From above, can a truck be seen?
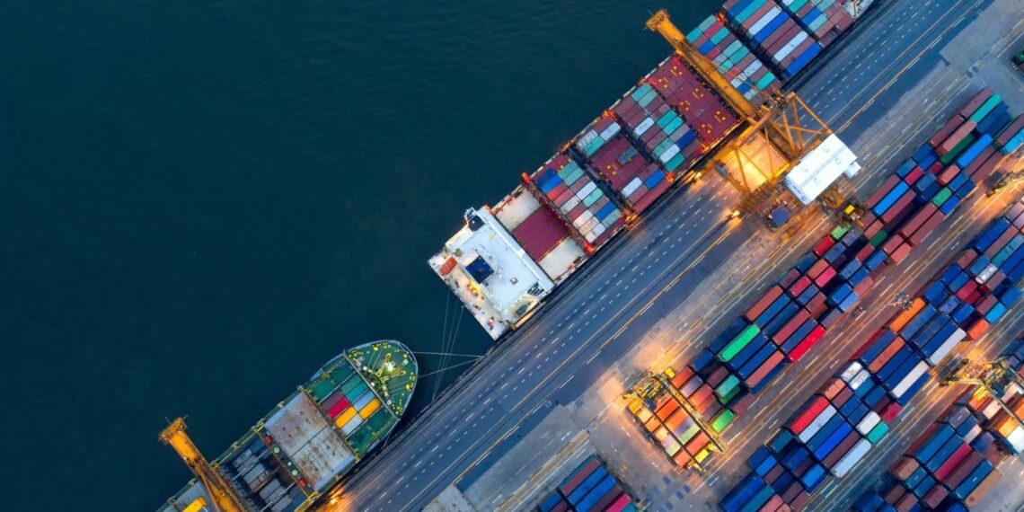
Yes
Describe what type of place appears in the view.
port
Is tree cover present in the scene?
No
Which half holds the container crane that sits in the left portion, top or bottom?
bottom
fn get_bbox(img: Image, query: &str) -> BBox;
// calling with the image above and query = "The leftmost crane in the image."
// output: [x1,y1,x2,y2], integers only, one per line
[144,416,247,512]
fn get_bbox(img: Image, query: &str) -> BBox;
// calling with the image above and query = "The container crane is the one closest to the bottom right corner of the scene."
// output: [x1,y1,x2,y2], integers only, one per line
[946,359,1024,429]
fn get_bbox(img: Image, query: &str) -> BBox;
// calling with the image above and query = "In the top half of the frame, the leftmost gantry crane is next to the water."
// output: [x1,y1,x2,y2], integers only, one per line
[640,3,862,217]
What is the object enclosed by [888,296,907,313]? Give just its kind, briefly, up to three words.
vehicle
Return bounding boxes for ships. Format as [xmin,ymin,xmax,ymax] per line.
[158,341,418,512]
[431,0,869,337]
